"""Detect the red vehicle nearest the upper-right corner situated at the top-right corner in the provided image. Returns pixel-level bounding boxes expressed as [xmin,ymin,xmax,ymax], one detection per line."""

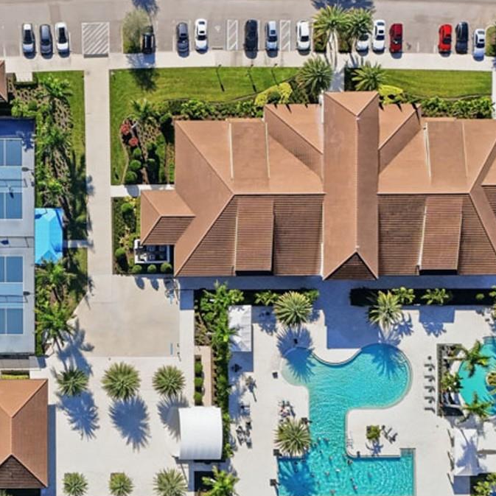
[436,22,453,55]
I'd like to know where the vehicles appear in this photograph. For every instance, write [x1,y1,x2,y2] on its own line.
[176,21,190,54]
[22,22,37,55]
[371,20,387,53]
[470,28,487,61]
[39,23,54,56]
[142,23,157,56]
[295,20,312,53]
[193,18,209,51]
[387,22,404,55]
[453,22,470,55]
[243,18,260,54]
[265,22,280,51]
[436,22,453,55]
[55,21,70,54]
